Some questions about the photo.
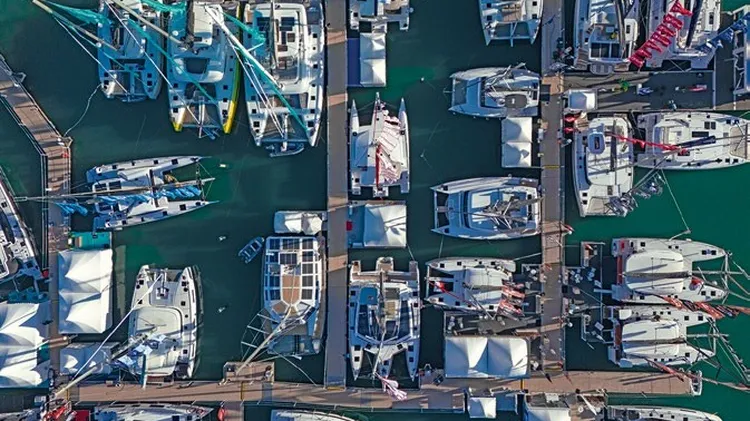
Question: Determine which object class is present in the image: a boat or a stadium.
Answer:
boat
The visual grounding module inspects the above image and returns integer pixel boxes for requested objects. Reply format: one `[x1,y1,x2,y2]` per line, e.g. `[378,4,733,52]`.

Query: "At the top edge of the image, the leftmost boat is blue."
[21,0,168,102]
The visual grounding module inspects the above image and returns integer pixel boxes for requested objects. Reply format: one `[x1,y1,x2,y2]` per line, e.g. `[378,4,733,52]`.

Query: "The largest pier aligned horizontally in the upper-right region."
[562,40,736,113]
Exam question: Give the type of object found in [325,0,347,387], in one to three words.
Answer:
pier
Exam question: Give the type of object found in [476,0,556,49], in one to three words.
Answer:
boat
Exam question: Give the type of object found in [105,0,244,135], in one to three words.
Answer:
boat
